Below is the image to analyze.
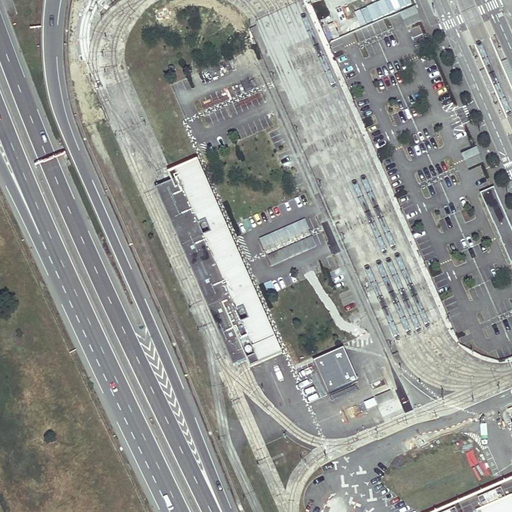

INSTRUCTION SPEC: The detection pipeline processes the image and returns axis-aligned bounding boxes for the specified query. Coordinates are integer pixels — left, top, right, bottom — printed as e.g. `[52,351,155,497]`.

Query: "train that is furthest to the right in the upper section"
[477,42,511,114]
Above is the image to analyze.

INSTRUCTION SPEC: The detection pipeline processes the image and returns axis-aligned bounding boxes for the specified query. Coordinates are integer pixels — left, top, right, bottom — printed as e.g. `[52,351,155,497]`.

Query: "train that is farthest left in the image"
[302,14,335,86]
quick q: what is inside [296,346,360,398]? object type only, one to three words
building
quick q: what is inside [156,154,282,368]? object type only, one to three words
building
